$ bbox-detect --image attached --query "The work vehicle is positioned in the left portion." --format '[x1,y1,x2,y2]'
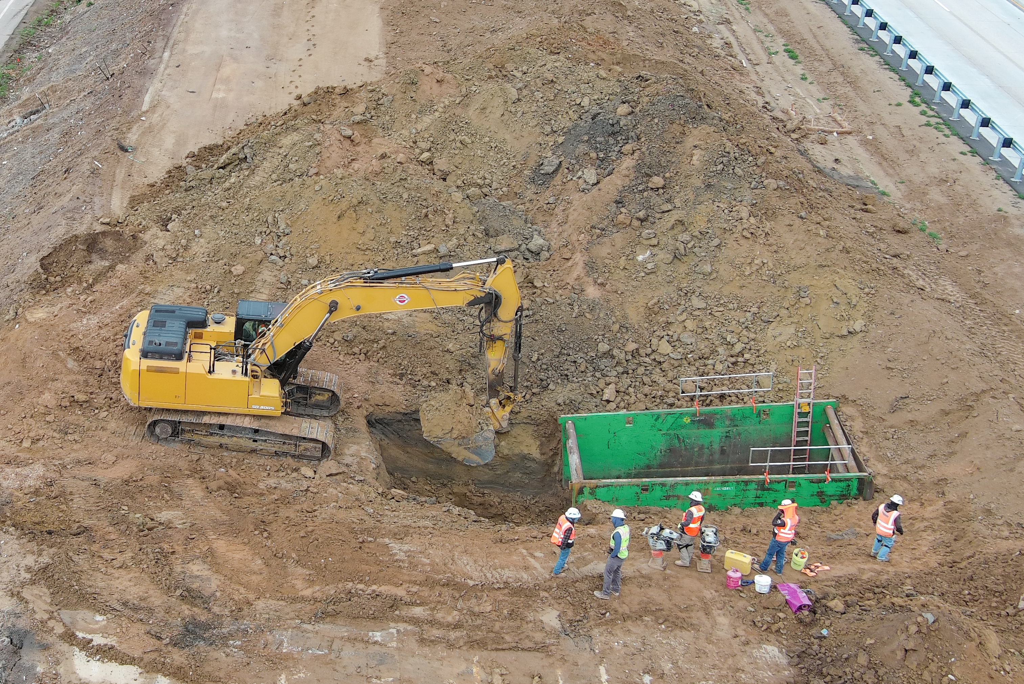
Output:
[121,247,523,466]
